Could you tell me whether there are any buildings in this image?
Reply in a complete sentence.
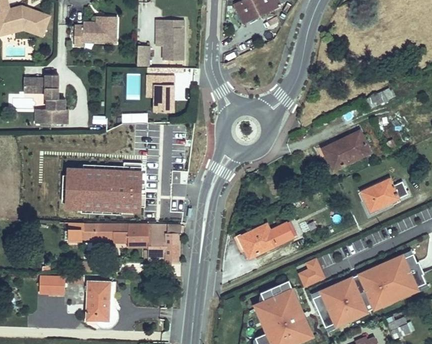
Yes, you can see a building in this photo.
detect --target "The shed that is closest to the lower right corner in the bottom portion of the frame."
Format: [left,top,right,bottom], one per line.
[388,316,415,339]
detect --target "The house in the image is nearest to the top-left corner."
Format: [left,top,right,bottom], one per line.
[0,0,52,38]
